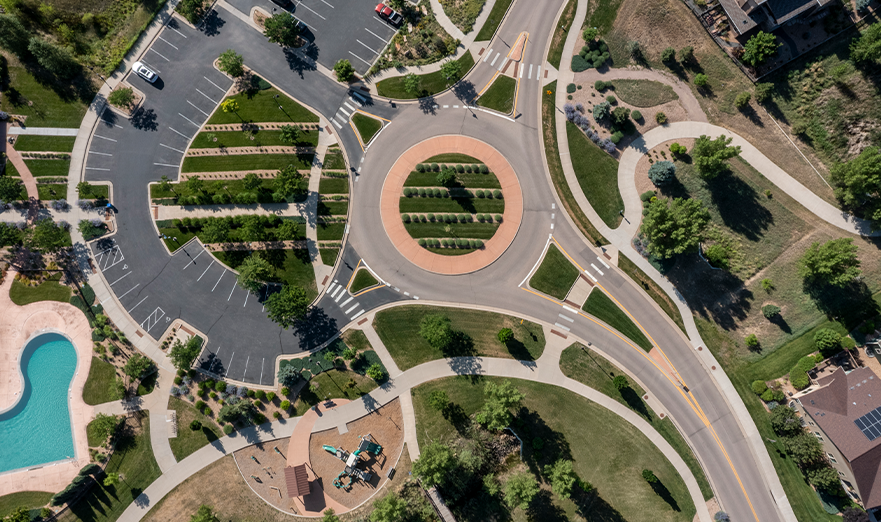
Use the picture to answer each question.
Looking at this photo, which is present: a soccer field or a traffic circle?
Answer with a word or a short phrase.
traffic circle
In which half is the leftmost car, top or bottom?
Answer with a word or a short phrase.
top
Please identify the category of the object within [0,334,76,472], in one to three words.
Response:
swimming pool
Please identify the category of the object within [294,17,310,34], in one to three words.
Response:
car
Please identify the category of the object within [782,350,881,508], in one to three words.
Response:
house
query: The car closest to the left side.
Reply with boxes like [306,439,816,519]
[129,60,158,83]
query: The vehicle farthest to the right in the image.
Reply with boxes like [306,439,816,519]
[373,1,405,28]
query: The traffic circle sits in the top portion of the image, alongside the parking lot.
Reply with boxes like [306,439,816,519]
[356,109,547,300]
